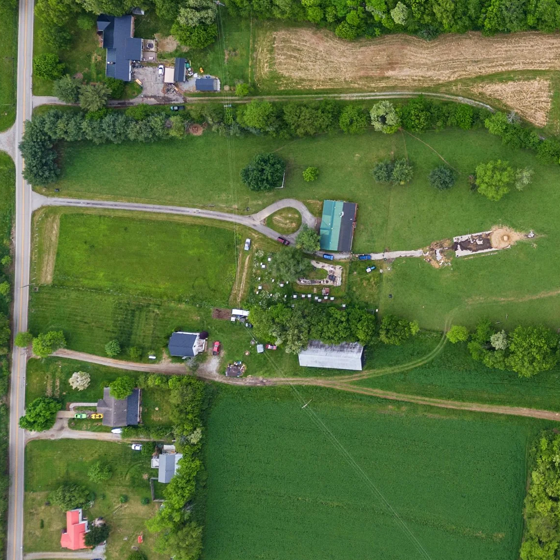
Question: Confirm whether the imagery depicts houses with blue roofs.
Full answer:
Yes, a house with a blue roof appears in the view.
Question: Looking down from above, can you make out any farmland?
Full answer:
Yes, farmland can be seen from above here.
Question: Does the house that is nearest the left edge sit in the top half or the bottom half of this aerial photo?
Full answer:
It is in the bottom half that the house that is nearest the left edge appears.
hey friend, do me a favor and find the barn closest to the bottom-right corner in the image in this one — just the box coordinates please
[300,340,366,372]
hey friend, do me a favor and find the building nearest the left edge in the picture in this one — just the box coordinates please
[57,509,95,553]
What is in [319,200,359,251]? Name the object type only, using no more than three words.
house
